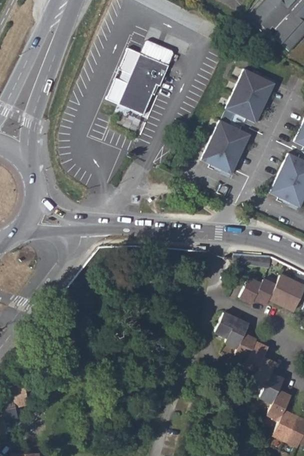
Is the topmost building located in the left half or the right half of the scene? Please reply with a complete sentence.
It is on the right.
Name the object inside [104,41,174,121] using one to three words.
building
